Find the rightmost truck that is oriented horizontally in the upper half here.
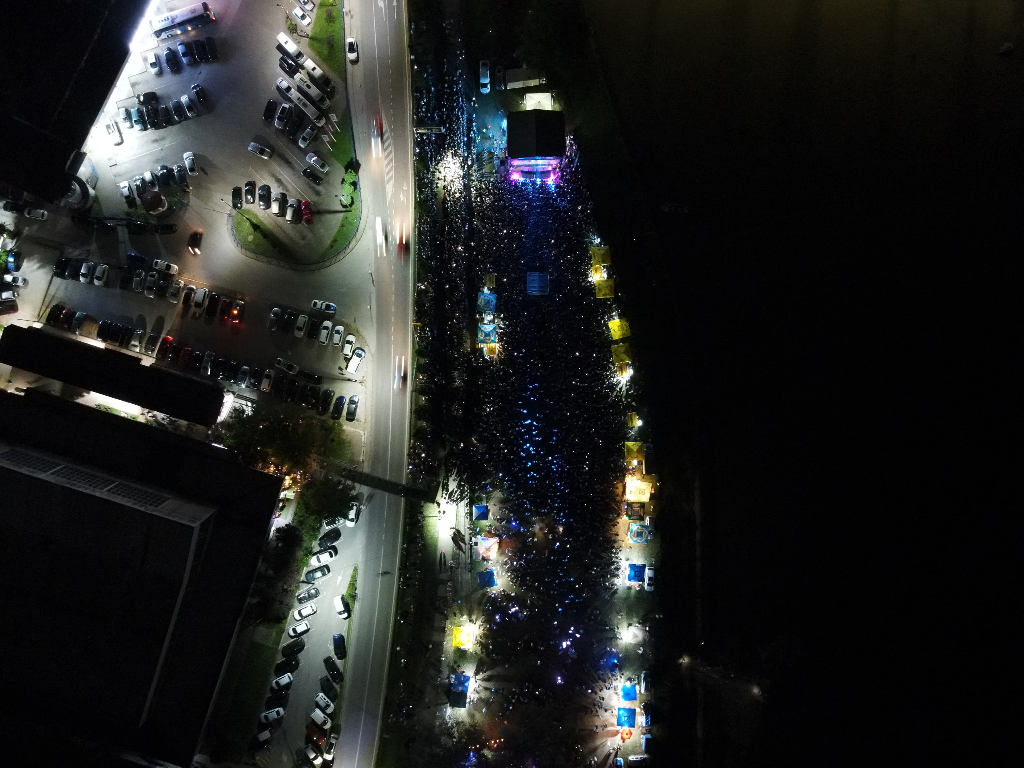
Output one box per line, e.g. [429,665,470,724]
[504,67,547,90]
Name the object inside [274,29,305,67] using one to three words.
vehicle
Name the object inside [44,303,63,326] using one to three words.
car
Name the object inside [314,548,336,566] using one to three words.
car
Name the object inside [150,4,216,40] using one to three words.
bus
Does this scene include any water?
Yes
